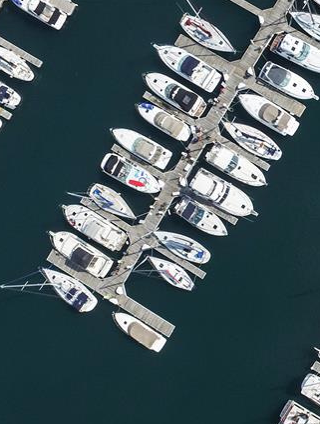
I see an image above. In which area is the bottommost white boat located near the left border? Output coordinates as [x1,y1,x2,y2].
[0,267,98,317]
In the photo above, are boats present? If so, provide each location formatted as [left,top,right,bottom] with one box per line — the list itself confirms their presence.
[48,231,118,284]
[234,84,300,137]
[137,223,212,265]
[170,195,231,238]
[283,404,320,424]
[133,100,194,150]
[280,0,320,41]
[251,55,318,101]
[180,0,250,65]
[61,204,133,260]
[0,82,22,107]
[0,267,98,317]
[0,52,39,85]
[154,45,231,102]
[300,376,320,406]
[198,143,270,187]
[135,242,197,293]
[141,72,214,124]
[109,128,185,176]
[107,296,168,352]
[101,154,168,198]
[185,167,258,216]
[9,0,66,30]
[268,26,320,73]
[79,183,152,231]
[215,108,283,161]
